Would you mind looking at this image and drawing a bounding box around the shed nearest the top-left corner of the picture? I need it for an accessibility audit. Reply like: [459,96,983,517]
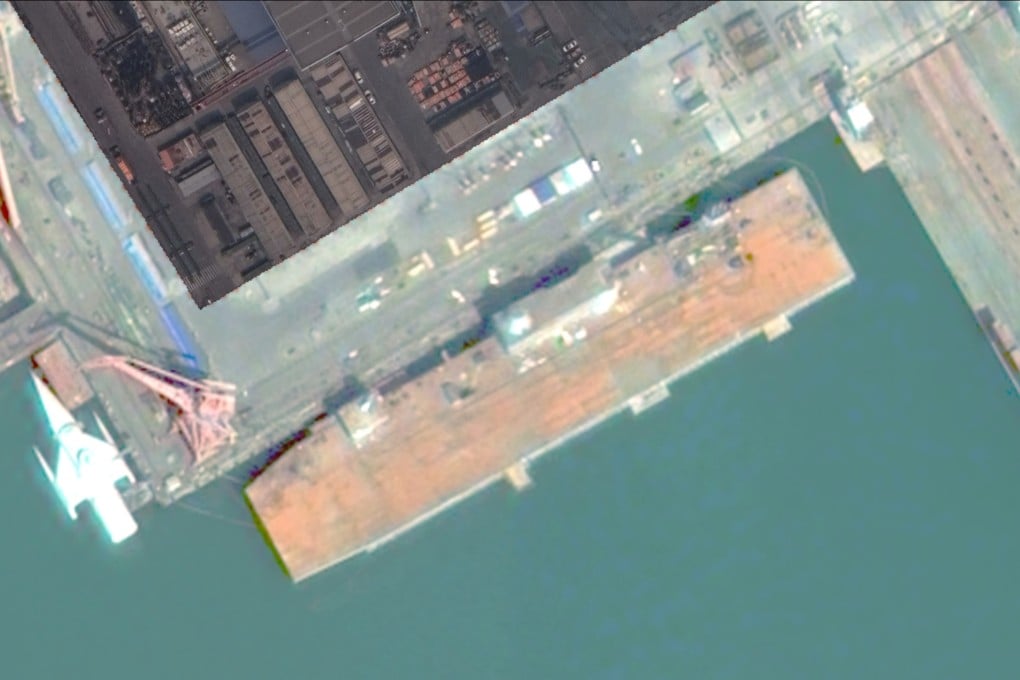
[37,82,81,151]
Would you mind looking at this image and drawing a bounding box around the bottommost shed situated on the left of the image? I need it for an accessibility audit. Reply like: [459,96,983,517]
[162,302,201,366]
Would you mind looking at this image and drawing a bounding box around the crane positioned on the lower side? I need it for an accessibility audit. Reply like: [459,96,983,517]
[80,353,242,467]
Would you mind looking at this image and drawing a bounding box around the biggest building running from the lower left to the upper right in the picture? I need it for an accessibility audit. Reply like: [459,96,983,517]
[432,94,515,158]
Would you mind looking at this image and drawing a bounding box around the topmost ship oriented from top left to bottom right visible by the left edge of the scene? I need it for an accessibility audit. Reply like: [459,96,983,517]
[34,340,94,410]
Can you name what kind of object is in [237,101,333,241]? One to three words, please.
building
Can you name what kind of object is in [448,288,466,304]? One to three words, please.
vehicle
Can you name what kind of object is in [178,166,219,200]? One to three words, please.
shed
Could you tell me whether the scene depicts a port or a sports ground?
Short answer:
port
